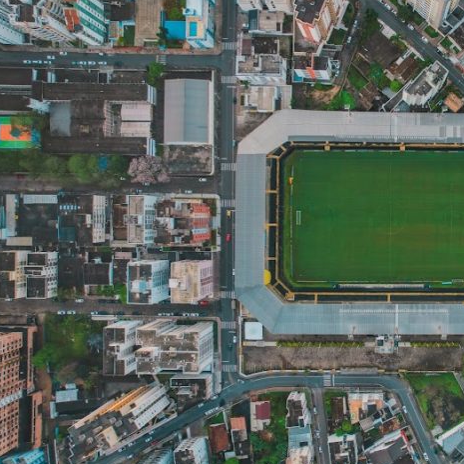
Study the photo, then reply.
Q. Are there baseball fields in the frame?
No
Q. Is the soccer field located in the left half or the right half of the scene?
right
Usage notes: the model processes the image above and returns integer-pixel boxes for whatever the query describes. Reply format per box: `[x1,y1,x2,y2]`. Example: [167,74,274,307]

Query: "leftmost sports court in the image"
[0,116,40,148]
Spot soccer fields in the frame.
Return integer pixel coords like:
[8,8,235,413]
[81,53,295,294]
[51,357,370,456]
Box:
[284,151,464,289]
